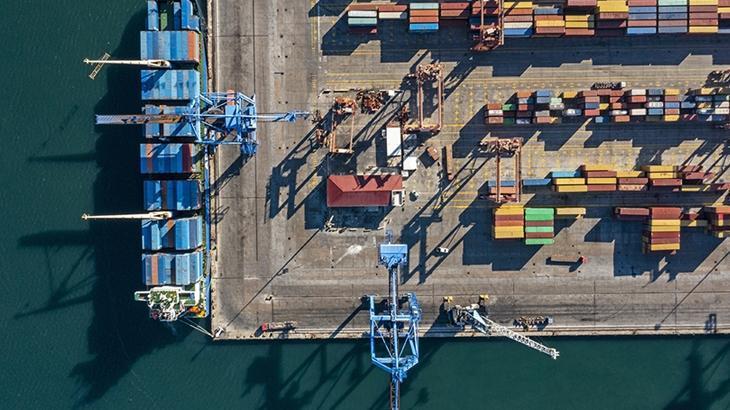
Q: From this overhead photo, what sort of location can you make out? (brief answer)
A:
port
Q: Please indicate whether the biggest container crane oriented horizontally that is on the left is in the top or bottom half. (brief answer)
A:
top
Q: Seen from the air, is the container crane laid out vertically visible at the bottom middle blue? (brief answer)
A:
Yes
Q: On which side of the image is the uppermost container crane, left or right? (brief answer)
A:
right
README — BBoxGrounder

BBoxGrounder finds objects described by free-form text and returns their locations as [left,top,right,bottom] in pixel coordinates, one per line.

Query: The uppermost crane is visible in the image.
[453,0,505,56]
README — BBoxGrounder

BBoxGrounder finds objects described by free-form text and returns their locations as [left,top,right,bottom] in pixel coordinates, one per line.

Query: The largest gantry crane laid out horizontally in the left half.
[95,86,303,156]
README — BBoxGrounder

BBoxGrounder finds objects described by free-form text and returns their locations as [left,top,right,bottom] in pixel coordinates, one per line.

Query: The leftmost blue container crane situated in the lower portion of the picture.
[362,224,423,410]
